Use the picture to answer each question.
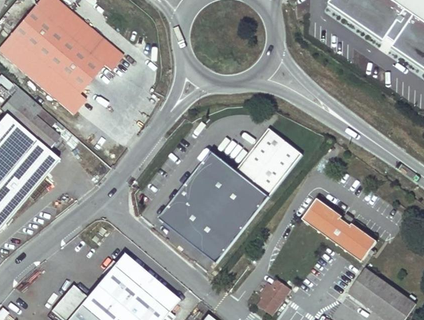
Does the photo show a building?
Yes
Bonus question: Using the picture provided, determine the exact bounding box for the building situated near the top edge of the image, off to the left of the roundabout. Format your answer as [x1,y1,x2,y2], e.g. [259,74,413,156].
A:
[0,0,125,116]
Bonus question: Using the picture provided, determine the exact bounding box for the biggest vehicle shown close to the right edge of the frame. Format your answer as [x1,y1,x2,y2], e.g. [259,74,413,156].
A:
[396,163,421,182]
